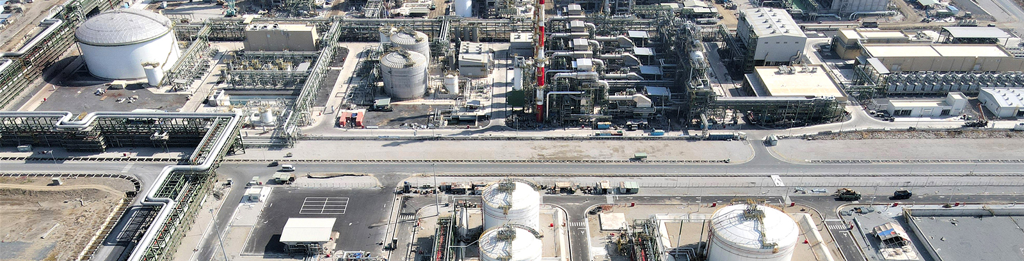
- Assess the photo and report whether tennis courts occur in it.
No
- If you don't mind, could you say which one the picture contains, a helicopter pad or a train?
train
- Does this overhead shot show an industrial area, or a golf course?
industrial area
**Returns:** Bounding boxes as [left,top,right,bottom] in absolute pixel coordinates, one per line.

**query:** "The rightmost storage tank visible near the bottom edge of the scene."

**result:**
[701,195,799,261]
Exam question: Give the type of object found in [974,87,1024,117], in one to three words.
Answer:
building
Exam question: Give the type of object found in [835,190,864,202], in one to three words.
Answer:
vehicle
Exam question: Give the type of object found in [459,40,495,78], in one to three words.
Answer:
building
